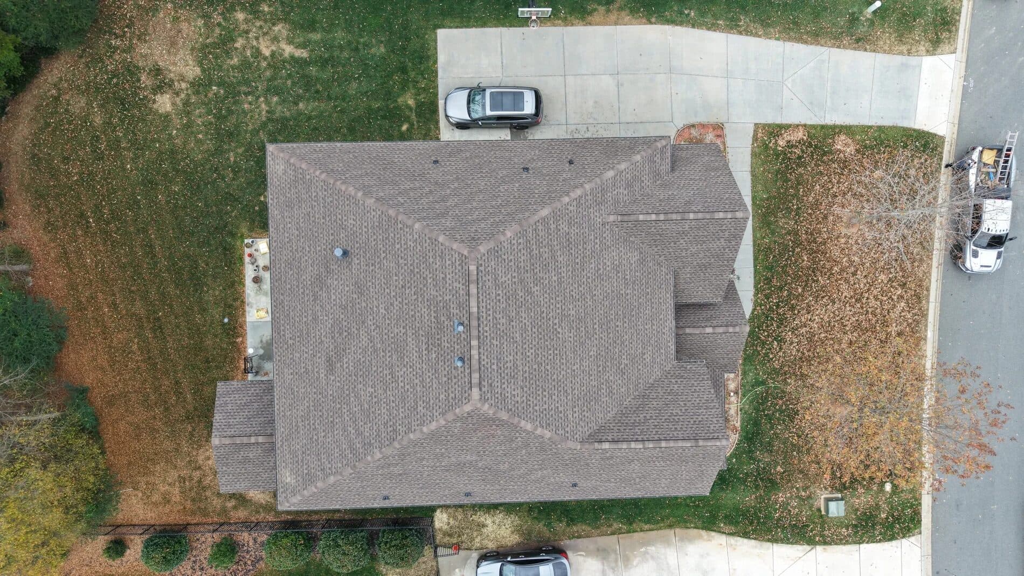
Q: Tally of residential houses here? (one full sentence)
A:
I count 1 residential house.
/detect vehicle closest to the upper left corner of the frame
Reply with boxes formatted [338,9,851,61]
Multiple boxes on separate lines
[445,81,543,130]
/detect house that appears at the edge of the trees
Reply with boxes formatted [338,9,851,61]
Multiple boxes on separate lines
[211,134,750,512]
